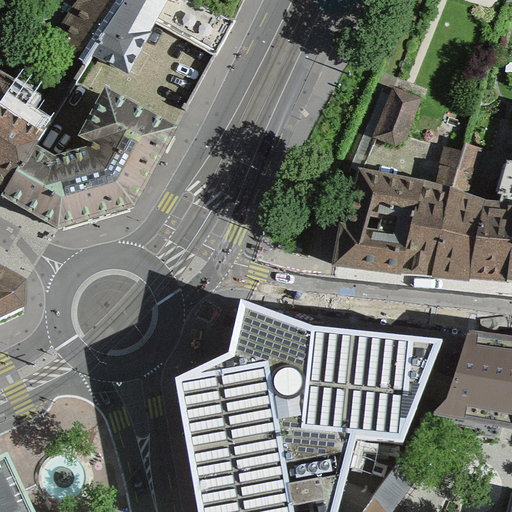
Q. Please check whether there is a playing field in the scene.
No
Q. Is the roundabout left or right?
left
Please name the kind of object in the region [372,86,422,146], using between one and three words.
house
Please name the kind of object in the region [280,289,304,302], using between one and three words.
vehicle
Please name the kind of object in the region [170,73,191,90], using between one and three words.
car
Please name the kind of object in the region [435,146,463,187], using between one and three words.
shed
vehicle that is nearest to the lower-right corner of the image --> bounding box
[414,277,442,290]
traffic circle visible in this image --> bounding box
[44,242,186,383]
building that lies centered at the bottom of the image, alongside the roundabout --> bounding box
[176,298,442,512]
